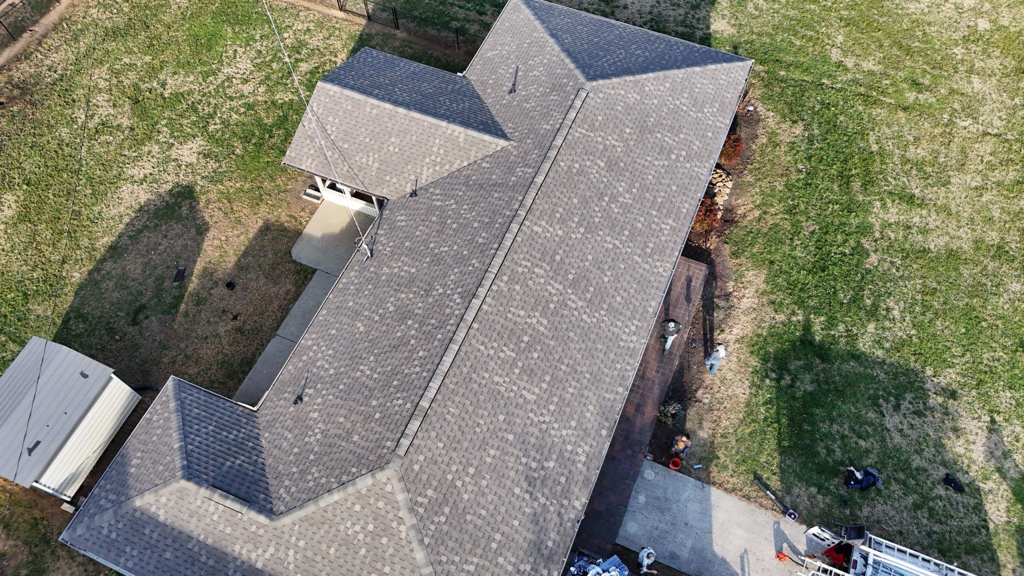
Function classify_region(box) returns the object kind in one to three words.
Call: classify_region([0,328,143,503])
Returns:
shed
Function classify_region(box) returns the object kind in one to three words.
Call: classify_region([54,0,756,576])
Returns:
house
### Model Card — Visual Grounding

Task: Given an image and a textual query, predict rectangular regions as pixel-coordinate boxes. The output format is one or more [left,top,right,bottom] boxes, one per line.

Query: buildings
[0,328,143,503]
[54,0,756,576]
